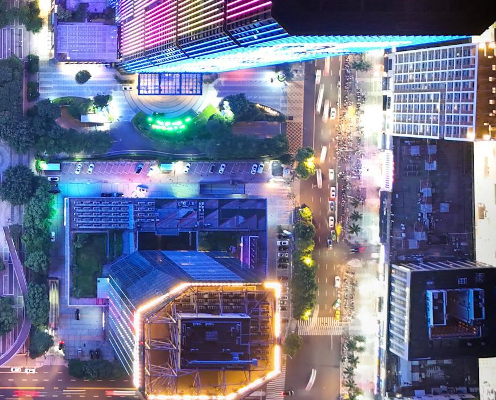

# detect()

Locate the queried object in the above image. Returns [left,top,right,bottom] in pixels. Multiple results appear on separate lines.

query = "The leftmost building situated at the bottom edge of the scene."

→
[106,244,284,400]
